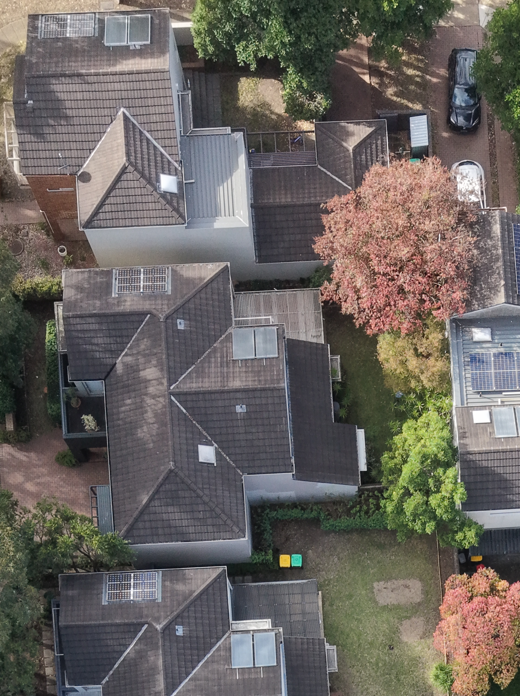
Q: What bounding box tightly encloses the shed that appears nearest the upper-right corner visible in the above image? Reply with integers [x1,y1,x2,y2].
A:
[410,115,428,163]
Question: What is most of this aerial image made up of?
buildings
